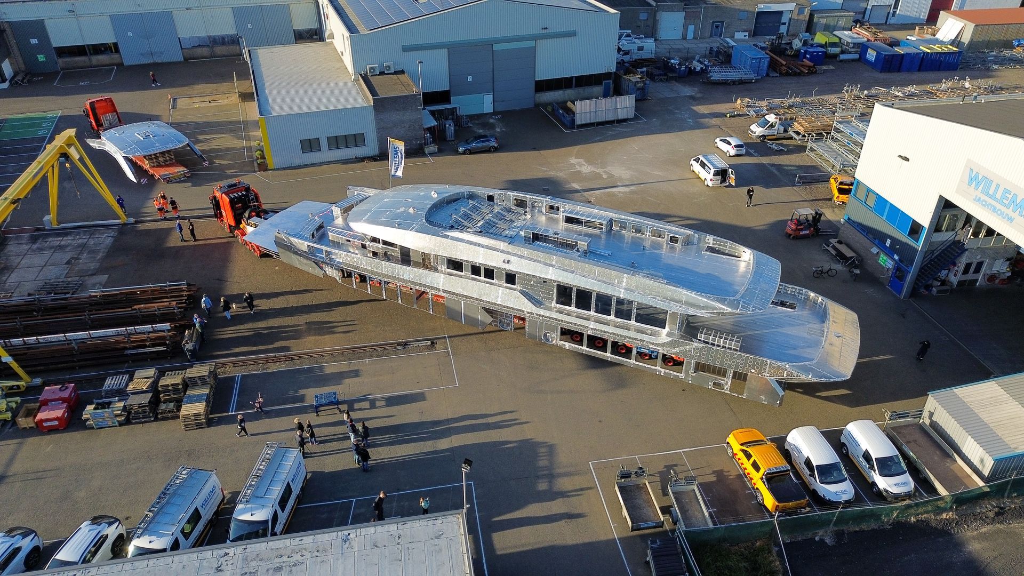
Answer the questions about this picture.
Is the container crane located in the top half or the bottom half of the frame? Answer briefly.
top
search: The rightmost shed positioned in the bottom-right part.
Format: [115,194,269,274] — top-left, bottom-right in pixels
[925,367,1024,477]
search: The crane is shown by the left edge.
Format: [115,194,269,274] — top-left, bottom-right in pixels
[0,122,138,224]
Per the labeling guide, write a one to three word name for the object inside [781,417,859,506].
van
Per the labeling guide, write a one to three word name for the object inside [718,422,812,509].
truck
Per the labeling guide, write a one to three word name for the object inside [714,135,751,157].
car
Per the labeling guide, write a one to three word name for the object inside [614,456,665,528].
trailer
